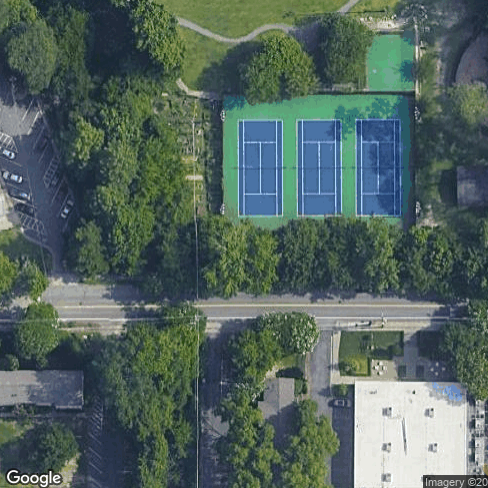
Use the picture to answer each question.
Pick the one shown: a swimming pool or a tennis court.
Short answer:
tennis court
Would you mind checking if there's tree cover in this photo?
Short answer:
Yes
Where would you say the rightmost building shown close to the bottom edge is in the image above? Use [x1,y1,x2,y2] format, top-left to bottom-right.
[354,381,467,488]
